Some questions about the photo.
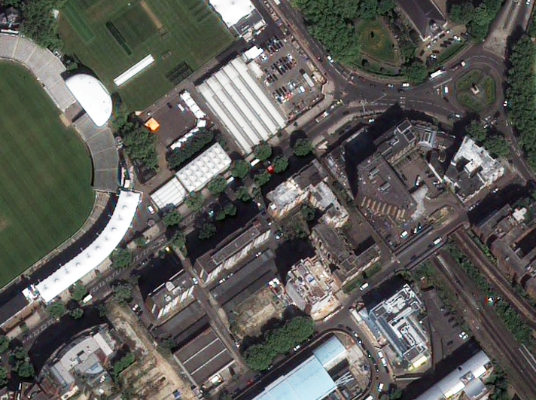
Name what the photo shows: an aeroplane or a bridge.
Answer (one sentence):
There is a bridge in the scene.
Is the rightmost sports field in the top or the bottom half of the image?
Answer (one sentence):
You can find the rightmost sports field in the top half.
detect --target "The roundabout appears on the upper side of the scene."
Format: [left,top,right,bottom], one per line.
[455,67,496,110]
